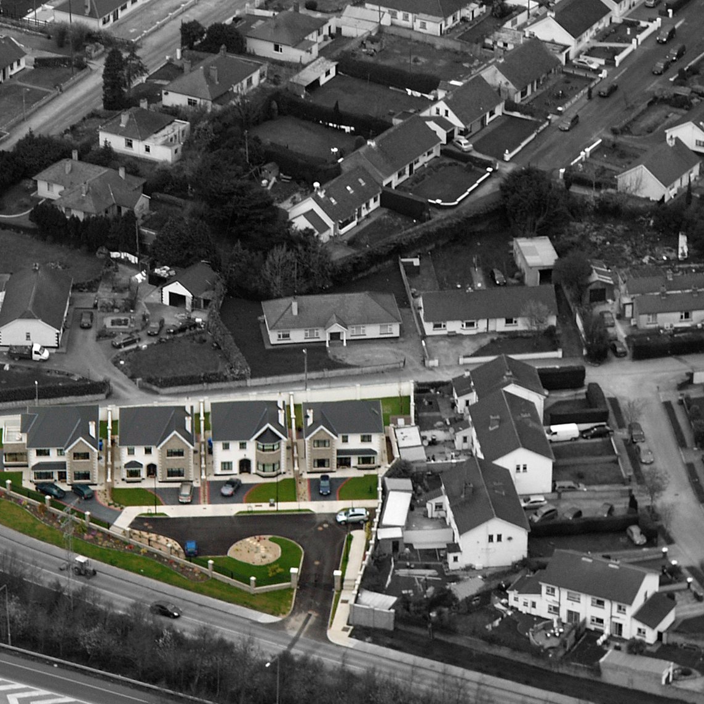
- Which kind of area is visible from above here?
residential area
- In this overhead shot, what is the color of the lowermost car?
black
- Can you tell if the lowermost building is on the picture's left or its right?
right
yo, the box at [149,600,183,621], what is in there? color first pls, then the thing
black car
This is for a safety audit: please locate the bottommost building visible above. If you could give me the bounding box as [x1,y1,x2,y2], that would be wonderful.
[599,651,668,692]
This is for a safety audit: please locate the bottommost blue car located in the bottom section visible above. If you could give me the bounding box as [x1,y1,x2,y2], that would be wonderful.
[184,541,198,559]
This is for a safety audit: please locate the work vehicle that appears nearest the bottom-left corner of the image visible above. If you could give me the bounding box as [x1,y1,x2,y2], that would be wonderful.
[54,550,104,579]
